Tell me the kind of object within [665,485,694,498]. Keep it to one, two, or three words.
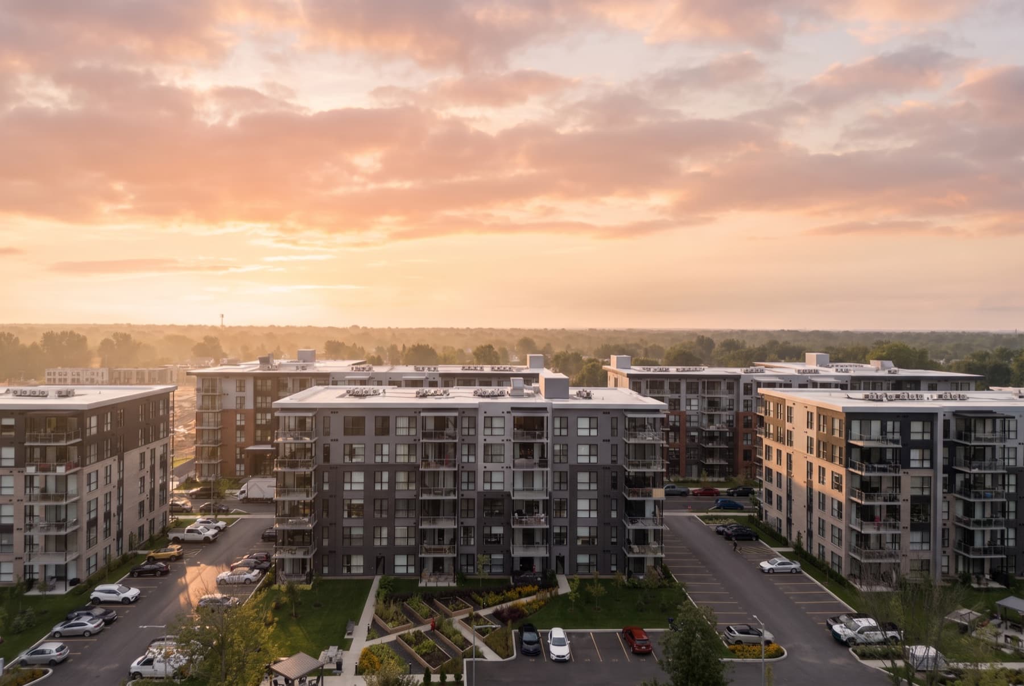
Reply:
vehicle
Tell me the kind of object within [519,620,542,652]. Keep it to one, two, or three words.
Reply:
car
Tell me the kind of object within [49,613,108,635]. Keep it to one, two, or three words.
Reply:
car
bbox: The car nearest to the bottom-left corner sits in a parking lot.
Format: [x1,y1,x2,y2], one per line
[14,639,74,664]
